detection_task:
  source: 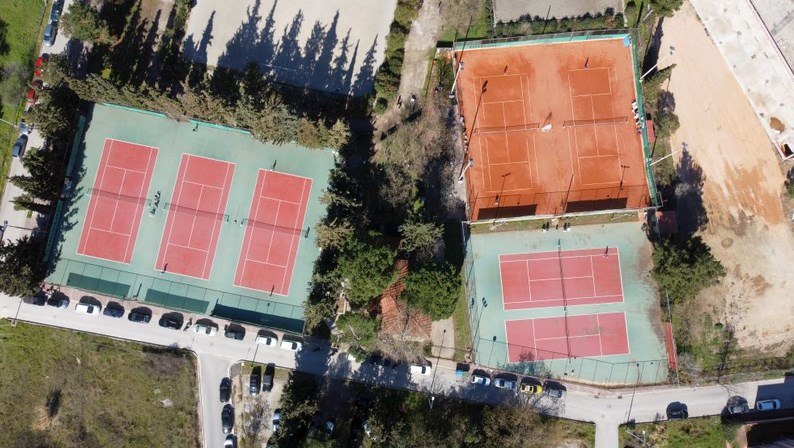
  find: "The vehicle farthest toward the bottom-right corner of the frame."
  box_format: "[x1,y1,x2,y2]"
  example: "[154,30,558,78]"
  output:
[758,399,782,412]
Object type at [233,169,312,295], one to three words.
tennis court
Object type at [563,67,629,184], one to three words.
tennis court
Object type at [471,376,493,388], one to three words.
vehicle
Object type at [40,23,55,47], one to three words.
car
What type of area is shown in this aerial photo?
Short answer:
sports ground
